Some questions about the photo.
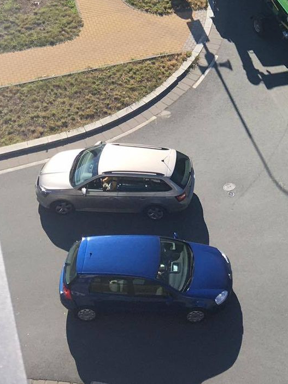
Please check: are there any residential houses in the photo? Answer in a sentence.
No, there isn't any residential house down there.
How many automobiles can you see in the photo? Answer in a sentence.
In total, there are 2 automobiles in the scene.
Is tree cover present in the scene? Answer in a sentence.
No, there's no tree cover in this view.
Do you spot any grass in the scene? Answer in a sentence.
Yes, there's grass in this view.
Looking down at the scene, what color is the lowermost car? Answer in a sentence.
From above, the lowermost car appears blue.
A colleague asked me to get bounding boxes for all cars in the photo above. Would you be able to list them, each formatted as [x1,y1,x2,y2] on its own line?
[32,134,201,218]
[54,226,232,318]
